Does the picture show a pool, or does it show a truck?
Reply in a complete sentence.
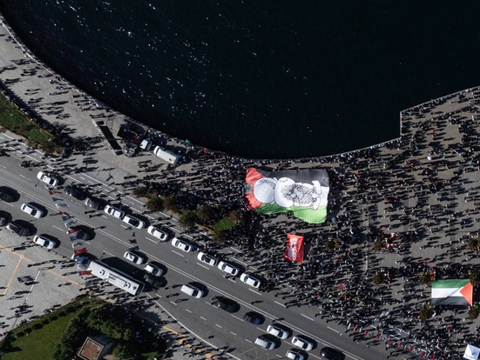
It is a truck that can be seen here.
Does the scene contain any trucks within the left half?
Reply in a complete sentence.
Yes, you'll find a truck within the left half.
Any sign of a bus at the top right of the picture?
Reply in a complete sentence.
No, I see no bus at the top right of the picture.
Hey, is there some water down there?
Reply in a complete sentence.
Yes, there is water in the image.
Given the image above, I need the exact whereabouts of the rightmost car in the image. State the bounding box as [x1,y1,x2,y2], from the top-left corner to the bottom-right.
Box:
[320,346,343,360]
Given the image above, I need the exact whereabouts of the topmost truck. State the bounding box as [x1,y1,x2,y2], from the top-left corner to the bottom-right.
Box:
[113,119,155,155]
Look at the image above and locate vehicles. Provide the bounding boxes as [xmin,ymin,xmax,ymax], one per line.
[0,215,11,228]
[63,185,89,202]
[81,260,147,300]
[214,297,237,314]
[103,203,126,221]
[6,220,32,238]
[179,284,205,300]
[83,195,104,211]
[121,249,147,266]
[121,213,148,232]
[20,203,45,219]
[143,261,166,278]
[284,349,306,360]
[243,311,265,326]
[147,224,172,243]
[290,335,314,353]
[140,271,166,291]
[170,237,194,253]
[266,323,289,340]
[238,272,263,290]
[217,260,241,277]
[34,235,57,250]
[196,250,219,268]
[37,170,61,188]
[68,226,94,243]
[0,187,16,203]
[320,346,343,360]
[113,119,155,155]
[253,335,278,352]
[151,145,182,167]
